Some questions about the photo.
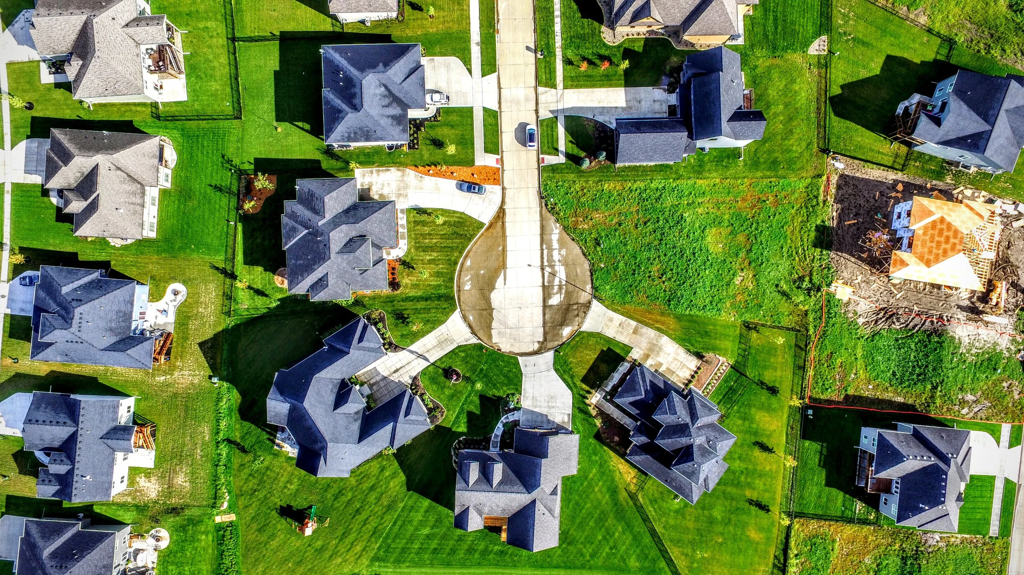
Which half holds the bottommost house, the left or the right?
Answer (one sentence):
You can find the bottommost house on the left side of the picture.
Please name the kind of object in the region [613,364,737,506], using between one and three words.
house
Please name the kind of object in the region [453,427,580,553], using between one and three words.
house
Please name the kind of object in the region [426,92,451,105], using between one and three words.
vehicle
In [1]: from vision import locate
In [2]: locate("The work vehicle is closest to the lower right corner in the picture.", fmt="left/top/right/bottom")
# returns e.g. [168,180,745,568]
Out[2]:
[986,284,1006,311]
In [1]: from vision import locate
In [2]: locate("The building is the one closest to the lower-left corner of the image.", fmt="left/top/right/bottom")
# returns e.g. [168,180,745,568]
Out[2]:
[17,502,129,575]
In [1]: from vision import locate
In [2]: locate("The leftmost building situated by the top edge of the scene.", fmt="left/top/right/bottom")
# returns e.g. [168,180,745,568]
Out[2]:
[27,0,190,112]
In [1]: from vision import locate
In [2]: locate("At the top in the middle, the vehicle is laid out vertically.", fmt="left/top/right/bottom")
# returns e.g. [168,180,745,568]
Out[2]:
[526,125,538,150]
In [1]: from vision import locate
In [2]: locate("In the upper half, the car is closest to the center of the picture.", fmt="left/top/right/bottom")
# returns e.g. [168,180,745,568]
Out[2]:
[458,181,485,195]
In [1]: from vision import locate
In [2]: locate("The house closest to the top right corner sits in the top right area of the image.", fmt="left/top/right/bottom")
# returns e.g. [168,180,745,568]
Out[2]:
[894,72,1024,176]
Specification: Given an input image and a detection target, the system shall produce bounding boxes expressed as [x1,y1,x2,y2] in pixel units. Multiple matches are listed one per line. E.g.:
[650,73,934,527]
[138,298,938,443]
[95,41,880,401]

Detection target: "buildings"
[613,364,737,506]
[19,380,158,503]
[281,177,399,301]
[30,258,172,370]
[17,502,129,575]
[614,0,759,40]
[453,427,580,553]
[318,43,426,147]
[614,48,766,165]
[43,127,171,240]
[874,195,1002,292]
[27,0,190,112]
[855,417,972,533]
[329,0,399,20]
[264,317,431,478]
[894,72,1024,176]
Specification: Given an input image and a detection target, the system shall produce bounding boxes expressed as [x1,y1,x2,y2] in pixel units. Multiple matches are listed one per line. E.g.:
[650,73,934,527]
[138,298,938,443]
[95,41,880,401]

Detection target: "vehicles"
[458,181,485,195]
[15,274,34,286]
[426,92,451,105]
[986,284,1006,311]
[526,125,538,150]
